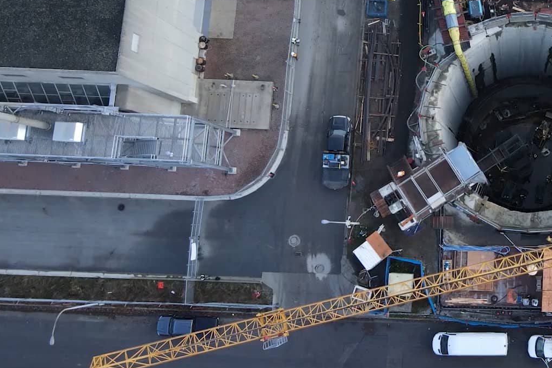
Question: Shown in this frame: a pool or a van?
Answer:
van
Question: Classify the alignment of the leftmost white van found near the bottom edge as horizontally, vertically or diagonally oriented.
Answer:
horizontally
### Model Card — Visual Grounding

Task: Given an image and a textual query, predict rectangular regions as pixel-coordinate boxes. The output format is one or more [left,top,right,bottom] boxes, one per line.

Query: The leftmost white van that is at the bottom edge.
[431,331,512,363]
